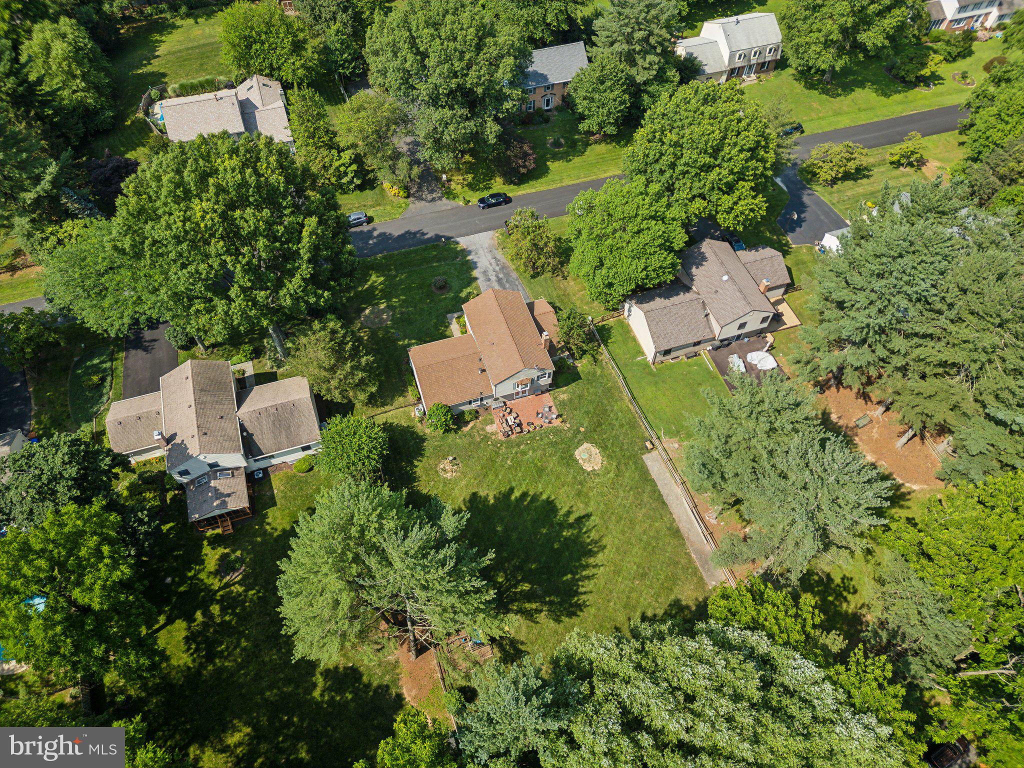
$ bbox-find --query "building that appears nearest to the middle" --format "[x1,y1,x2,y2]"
[407,288,570,418]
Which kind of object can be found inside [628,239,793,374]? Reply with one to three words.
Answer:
house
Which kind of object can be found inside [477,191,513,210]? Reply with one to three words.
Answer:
car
